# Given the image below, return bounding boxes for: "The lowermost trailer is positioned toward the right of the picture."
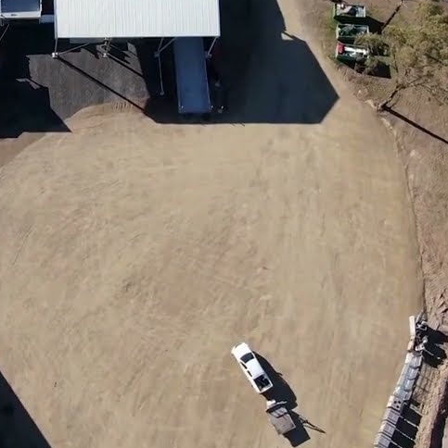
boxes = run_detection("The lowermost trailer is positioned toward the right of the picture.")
[267,396,303,434]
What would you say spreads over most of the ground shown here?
paved ground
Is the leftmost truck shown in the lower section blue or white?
white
